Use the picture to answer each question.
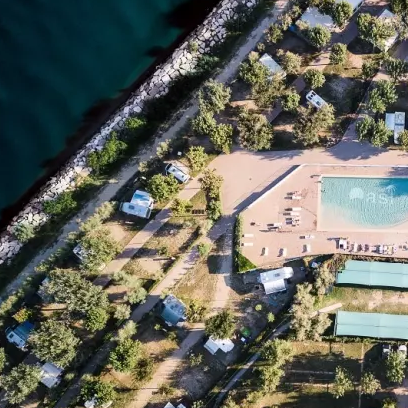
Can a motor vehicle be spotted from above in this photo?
Yes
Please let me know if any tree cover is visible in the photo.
Yes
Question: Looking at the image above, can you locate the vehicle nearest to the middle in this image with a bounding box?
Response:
[166,160,194,185]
